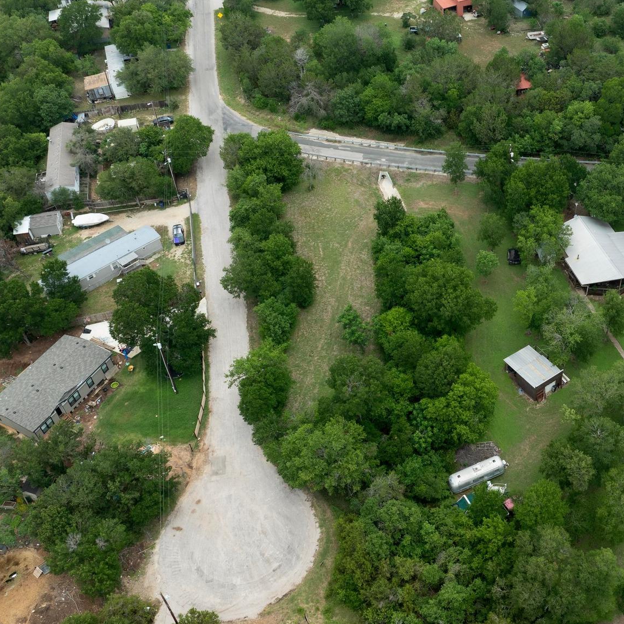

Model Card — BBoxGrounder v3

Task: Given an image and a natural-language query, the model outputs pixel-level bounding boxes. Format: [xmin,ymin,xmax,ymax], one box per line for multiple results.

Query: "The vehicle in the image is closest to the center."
[172,227,185,245]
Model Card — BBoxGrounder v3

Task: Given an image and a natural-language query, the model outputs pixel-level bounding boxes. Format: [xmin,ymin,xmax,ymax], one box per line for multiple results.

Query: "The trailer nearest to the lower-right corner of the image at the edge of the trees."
[449,455,510,494]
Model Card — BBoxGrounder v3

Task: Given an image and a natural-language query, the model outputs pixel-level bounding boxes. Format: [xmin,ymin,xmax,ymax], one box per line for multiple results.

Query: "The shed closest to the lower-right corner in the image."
[504,346,560,397]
